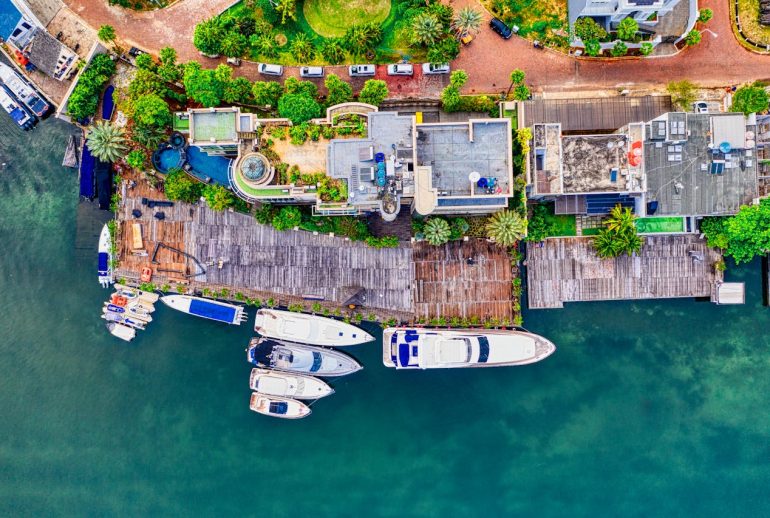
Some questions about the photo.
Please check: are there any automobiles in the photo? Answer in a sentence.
Yes, there is an automobile in the image.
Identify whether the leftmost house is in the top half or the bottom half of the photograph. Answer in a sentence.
Seen from above, the leftmost house lies in the top half of the view.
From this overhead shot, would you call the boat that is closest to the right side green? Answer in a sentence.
No, the boat that is closest to the right side is white.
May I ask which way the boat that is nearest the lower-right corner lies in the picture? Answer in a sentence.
I'd say the boat that is nearest the lower-right corner is aligned from left to right in the picture.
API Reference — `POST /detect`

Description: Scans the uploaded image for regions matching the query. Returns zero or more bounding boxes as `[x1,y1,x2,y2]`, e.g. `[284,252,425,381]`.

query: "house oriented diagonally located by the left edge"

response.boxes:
[8,17,85,85]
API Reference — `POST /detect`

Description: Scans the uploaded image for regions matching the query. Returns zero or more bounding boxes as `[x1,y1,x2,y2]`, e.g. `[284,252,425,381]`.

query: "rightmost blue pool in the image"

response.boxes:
[184,144,235,189]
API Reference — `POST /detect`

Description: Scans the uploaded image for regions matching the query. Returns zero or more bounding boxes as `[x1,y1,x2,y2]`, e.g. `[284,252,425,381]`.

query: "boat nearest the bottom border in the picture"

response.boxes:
[248,391,312,417]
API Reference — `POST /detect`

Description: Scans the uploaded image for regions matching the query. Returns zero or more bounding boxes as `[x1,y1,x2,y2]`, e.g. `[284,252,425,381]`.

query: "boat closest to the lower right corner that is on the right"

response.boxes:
[383,328,557,370]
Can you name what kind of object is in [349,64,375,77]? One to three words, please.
vehicle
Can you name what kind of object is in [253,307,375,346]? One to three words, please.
boat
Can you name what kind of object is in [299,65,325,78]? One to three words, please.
vehicle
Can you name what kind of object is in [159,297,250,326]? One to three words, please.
boat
